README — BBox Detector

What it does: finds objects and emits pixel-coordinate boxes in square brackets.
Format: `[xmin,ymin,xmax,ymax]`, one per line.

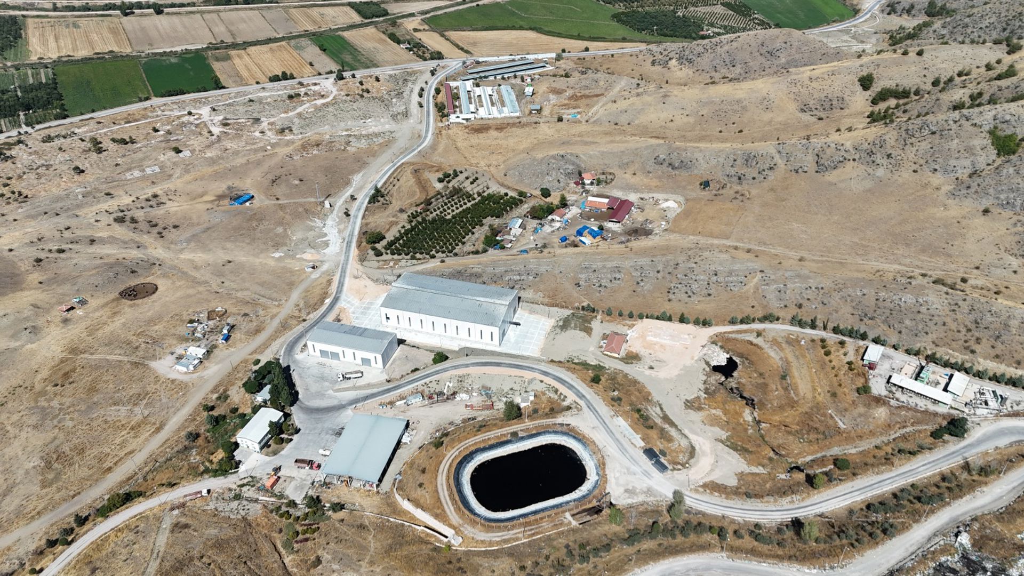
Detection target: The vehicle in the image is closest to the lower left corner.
[180,485,212,501]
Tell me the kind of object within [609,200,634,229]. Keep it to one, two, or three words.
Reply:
barn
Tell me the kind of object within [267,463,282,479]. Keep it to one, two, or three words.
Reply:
work vehicle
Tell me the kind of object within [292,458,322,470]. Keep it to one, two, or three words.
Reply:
vehicle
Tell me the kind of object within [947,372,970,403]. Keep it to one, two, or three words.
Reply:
building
